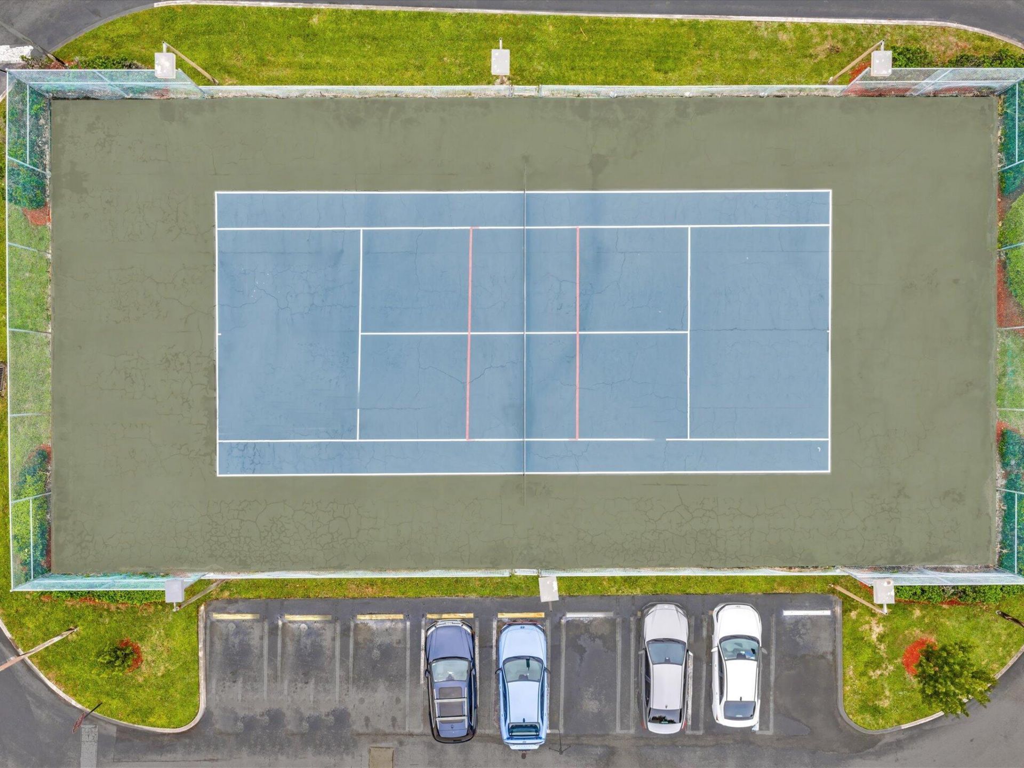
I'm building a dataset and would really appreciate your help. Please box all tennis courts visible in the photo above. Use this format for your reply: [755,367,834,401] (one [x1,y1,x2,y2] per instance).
[48,95,1000,574]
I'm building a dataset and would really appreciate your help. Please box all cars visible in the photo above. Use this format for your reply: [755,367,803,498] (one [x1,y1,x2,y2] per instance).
[495,620,552,756]
[638,600,696,731]
[421,617,479,740]
[709,601,768,725]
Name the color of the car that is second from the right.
white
